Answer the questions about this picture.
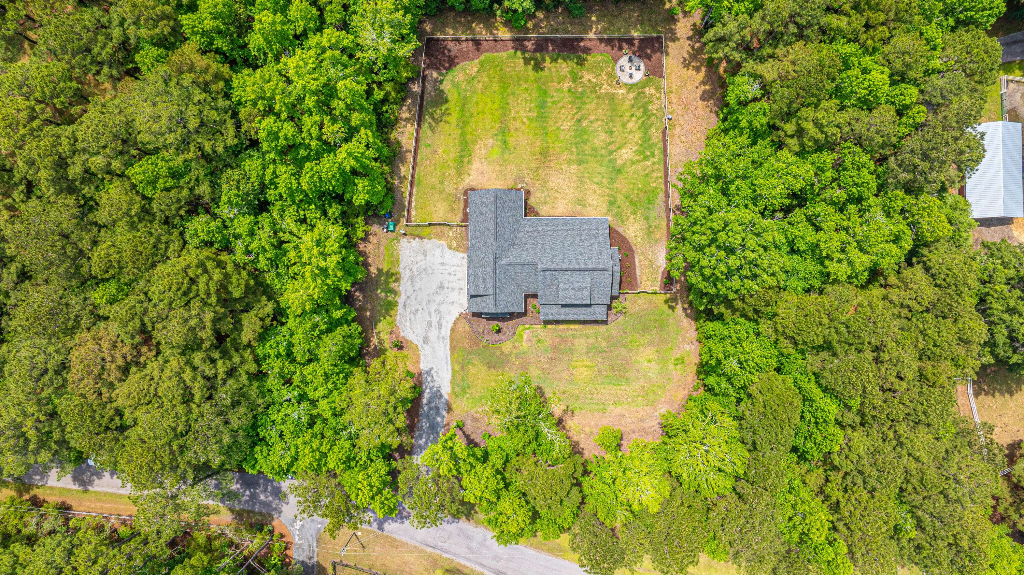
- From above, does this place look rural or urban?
rural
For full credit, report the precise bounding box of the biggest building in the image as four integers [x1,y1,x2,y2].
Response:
[466,188,621,320]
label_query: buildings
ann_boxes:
[466,188,621,320]
[954,120,1022,219]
